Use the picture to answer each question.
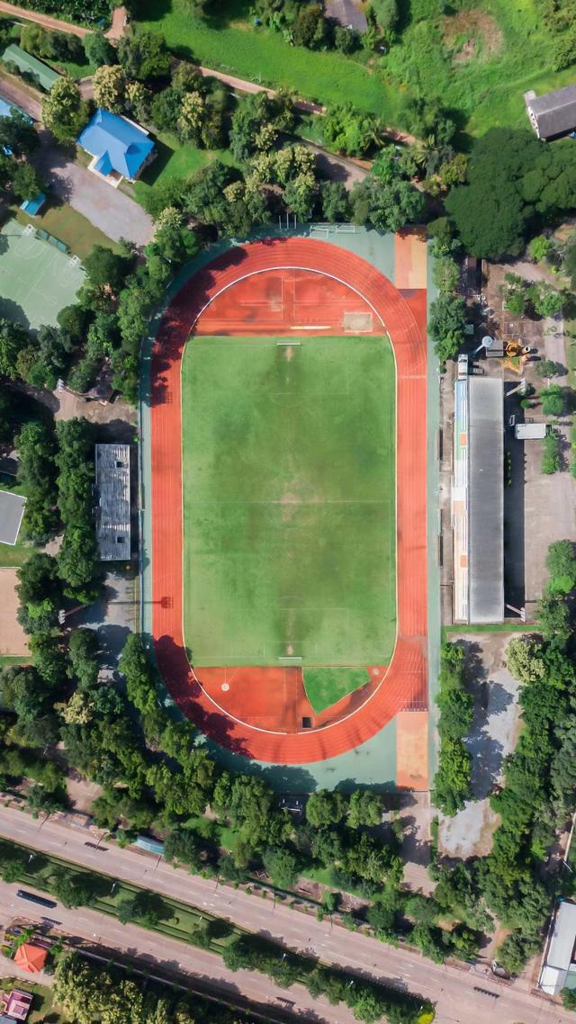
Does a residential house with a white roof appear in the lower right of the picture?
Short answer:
Yes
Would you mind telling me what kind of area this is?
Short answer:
sports ground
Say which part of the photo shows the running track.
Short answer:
center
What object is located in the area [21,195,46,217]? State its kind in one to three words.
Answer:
building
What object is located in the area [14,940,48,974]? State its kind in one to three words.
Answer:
house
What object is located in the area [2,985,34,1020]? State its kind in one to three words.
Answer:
house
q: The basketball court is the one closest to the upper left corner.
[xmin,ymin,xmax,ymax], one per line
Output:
[0,218,90,342]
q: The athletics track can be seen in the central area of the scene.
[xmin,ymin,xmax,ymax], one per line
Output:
[139,222,440,792]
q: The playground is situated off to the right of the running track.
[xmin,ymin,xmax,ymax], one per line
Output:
[500,338,529,375]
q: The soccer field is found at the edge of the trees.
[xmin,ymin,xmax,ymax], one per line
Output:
[183,336,395,667]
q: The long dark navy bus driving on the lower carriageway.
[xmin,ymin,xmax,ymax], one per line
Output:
[17,887,57,910]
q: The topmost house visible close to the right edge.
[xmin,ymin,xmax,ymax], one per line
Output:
[527,88,576,138]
